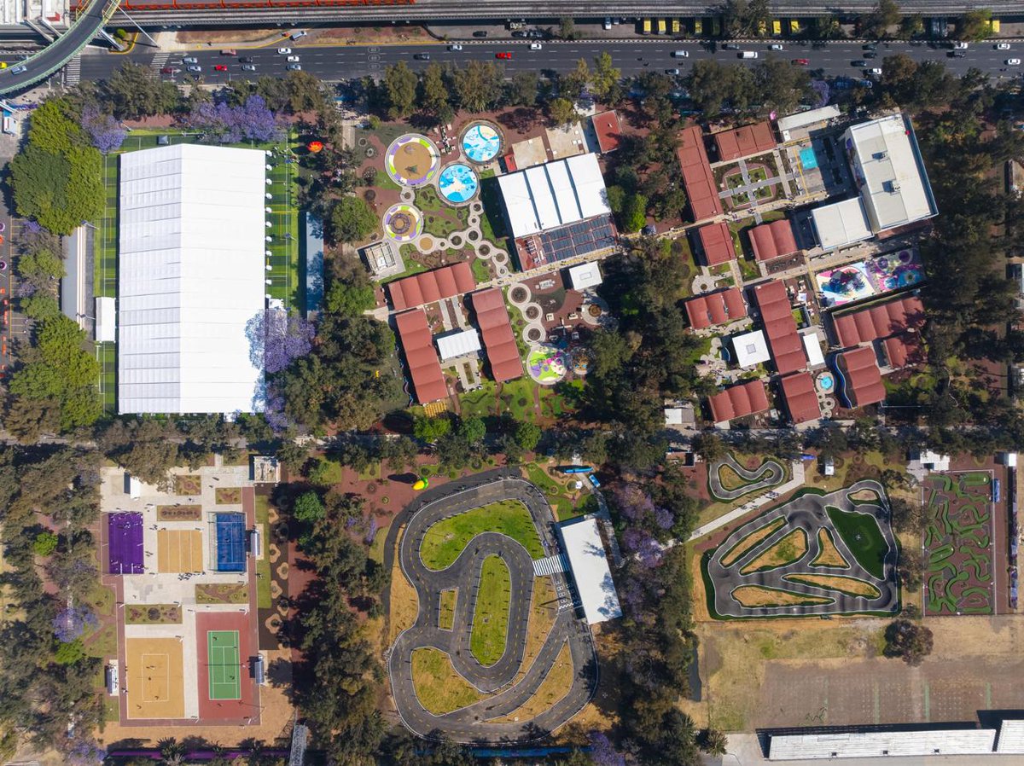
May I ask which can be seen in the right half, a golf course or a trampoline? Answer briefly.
golf course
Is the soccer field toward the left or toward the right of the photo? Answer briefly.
left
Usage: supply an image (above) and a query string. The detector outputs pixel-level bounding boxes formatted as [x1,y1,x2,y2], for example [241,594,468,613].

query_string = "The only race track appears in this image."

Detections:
[390,479,598,744]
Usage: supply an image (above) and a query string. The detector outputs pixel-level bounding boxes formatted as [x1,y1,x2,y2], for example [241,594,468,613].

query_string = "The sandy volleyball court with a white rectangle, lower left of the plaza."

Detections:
[126,637,185,719]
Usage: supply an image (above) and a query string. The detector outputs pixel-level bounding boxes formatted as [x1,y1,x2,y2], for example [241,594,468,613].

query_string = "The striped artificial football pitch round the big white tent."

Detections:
[94,128,300,420]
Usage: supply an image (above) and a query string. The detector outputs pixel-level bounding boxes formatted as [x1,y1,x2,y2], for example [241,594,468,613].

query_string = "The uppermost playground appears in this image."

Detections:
[385,133,440,188]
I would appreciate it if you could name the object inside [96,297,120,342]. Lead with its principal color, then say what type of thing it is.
white tent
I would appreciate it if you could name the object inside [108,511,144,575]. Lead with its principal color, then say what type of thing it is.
purple sports court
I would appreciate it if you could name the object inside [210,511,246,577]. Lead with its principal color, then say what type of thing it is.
blue sports court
